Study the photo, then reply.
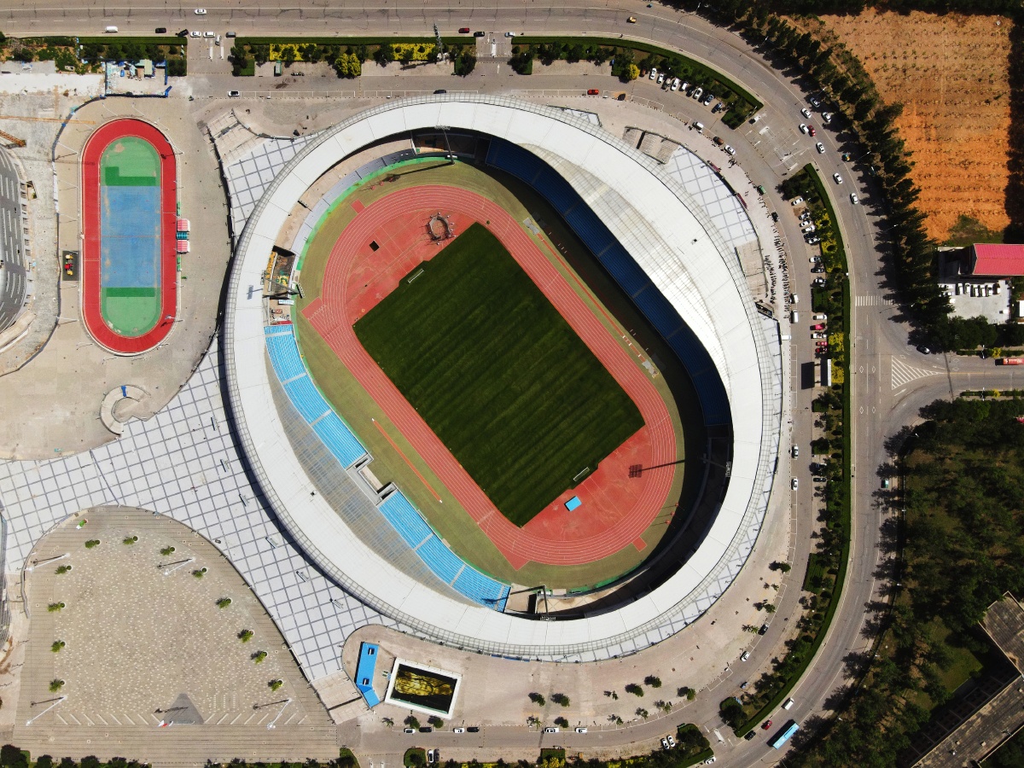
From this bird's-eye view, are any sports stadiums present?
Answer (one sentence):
Yes, the photo shows a sports stadium.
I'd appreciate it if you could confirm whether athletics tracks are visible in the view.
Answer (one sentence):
Yes, the image includes an athletics track.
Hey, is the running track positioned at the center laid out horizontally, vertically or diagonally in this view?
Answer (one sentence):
From this overhead view, the running track positioned at the center appears to run diagonally.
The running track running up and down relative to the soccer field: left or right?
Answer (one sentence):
Relative to the soccer field, the running track running up and down lies to the left.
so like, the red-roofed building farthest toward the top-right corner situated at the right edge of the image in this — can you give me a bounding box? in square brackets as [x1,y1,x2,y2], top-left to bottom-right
[956,243,1024,278]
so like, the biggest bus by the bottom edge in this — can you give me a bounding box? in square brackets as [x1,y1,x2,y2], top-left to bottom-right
[772,722,803,752]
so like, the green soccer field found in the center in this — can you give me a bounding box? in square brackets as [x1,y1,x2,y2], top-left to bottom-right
[354,222,644,526]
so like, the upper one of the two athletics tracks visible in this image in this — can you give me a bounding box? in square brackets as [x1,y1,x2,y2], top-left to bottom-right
[79,115,180,357]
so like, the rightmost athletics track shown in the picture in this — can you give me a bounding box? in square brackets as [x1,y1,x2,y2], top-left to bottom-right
[304,181,677,580]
